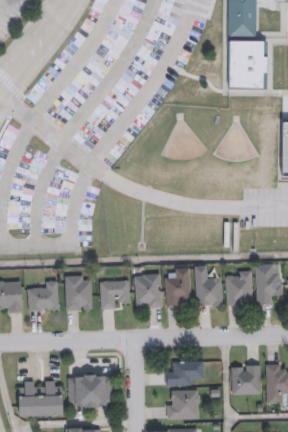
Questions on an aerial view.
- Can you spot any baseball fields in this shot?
Yes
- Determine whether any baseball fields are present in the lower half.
No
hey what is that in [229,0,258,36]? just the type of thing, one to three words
building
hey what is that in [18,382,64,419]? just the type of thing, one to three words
house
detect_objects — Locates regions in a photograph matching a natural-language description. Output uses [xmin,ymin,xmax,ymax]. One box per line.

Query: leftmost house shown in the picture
[0,282,22,312]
